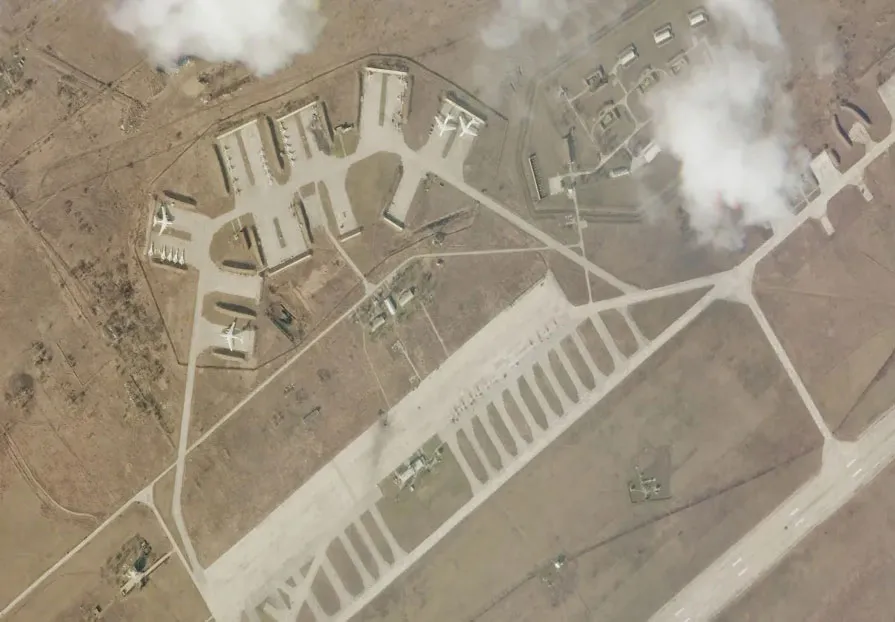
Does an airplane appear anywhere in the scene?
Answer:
Yes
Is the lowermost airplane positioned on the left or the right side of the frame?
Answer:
left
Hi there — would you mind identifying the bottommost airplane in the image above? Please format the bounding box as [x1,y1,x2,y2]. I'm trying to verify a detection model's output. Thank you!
[219,324,243,353]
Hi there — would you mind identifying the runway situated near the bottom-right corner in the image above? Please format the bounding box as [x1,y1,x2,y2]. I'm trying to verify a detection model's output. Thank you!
[646,405,895,622]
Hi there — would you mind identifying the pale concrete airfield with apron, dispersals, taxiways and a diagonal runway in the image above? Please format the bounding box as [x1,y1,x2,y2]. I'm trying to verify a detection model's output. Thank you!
[151,69,895,622]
